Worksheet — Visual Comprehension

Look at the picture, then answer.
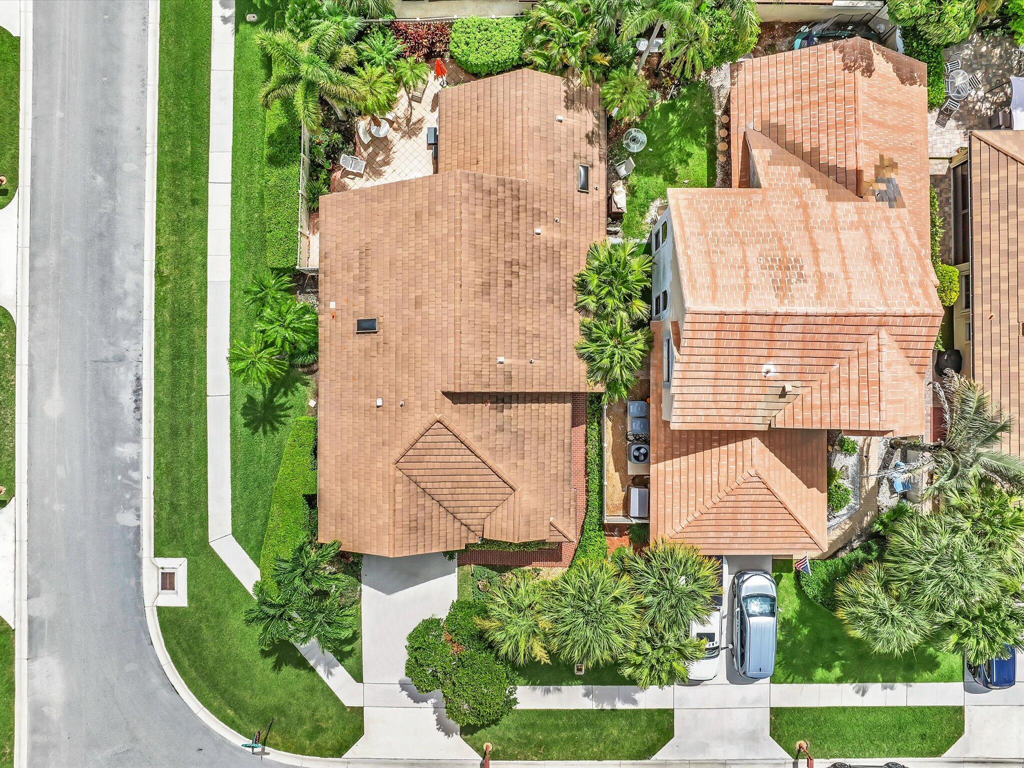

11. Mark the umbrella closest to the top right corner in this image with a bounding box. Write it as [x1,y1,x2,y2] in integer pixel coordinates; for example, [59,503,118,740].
[982,79,1024,129]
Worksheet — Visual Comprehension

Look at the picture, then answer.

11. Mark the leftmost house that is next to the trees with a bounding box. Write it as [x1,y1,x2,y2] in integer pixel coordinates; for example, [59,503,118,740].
[316,69,608,556]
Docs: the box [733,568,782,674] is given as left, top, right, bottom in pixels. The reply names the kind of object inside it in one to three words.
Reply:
car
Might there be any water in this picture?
No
